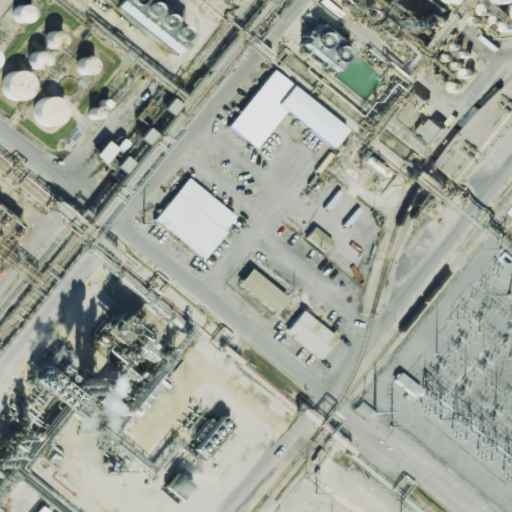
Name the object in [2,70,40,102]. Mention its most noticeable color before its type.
white storage tank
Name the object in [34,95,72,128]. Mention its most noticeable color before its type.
white storage tank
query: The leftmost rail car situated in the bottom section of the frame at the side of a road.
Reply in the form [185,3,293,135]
[402,300,428,332]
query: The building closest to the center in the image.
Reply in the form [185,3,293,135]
[238,268,289,314]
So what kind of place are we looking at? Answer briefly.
industrial area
